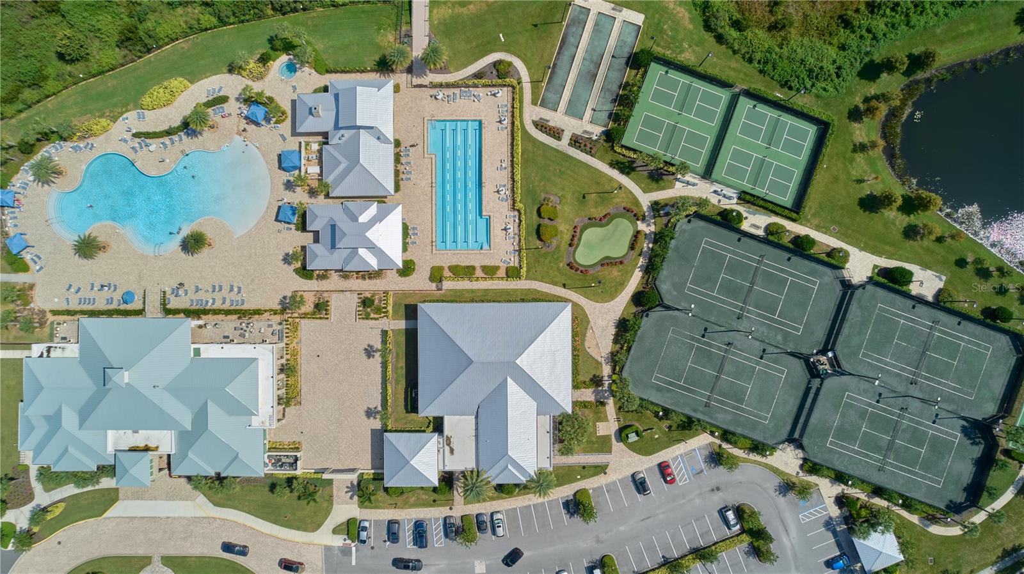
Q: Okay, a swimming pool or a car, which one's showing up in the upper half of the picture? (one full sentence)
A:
You can see a swimming pool in the upper half of the picture.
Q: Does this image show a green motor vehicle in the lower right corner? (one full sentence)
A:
No, I can find no green motor vehicle in the lower right corner.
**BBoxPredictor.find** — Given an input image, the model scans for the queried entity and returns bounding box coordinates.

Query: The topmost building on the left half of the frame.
[297,80,394,196]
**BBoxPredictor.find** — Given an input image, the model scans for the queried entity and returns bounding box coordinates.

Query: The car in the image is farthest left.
[222,541,249,556]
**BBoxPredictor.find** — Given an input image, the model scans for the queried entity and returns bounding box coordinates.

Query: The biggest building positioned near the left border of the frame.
[18,318,283,479]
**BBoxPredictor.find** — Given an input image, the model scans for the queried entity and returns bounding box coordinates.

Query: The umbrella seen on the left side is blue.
[122,290,137,304]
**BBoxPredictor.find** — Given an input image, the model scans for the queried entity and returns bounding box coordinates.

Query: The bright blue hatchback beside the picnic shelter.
[825,553,849,571]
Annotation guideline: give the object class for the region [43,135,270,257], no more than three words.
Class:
swimming pool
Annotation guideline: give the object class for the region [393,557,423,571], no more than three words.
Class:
car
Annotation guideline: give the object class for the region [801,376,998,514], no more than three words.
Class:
tennis court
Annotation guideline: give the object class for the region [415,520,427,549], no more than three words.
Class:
vehicle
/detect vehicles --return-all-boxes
[659,460,676,485]
[393,557,423,571]
[415,520,427,549]
[357,519,369,545]
[491,511,504,538]
[388,518,399,544]
[222,541,249,556]
[501,546,525,567]
[445,514,457,540]
[279,558,306,572]
[825,553,849,571]
[633,470,650,496]
[477,512,488,534]
[719,506,738,531]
